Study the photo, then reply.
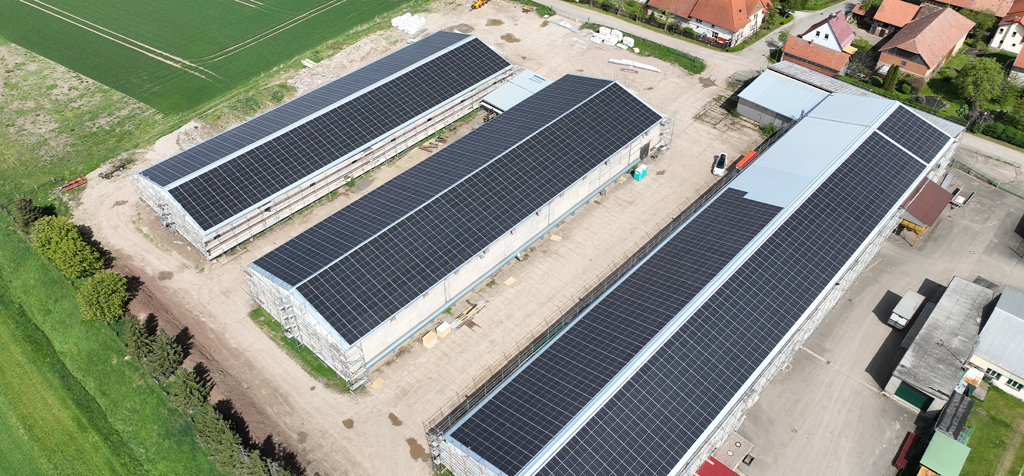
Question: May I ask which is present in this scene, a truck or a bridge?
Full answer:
This aerial view contains a truck.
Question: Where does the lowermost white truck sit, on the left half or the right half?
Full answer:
The lowermost white truck appears in the right half of the scene.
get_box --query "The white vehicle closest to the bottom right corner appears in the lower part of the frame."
[878,287,924,338]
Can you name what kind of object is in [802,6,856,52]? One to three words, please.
house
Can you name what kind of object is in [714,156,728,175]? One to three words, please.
car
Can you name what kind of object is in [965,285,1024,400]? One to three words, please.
building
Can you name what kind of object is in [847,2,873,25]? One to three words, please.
shed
